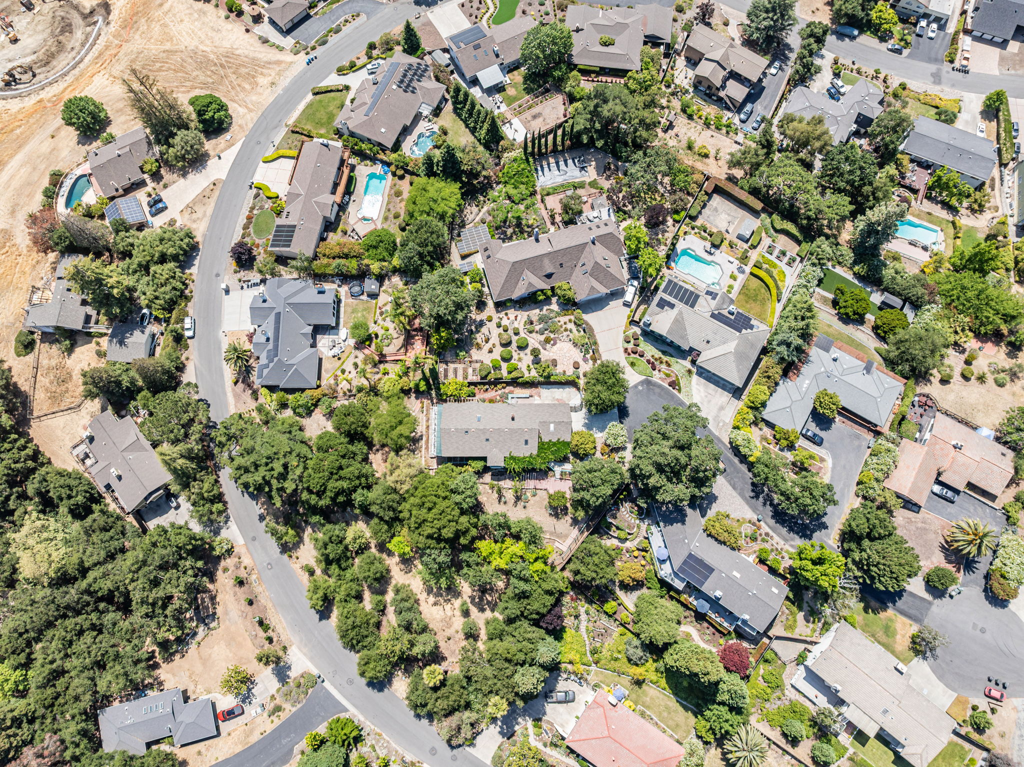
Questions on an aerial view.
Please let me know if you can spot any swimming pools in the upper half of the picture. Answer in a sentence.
Yes, looking in the upper half of the picture, one can make out a swimming pool.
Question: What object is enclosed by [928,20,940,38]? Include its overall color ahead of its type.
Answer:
white vehicle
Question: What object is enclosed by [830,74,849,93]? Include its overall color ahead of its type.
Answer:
white vehicle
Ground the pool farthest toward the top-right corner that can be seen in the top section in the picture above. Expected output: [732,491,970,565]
[902,218,940,250]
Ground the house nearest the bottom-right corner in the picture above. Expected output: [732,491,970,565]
[810,620,956,767]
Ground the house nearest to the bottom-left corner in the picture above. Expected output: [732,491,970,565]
[100,688,220,765]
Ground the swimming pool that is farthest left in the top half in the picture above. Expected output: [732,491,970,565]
[62,173,94,212]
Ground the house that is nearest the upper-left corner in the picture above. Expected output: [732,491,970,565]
[88,130,158,199]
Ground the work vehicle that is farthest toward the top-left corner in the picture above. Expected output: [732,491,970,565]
[0,20,21,43]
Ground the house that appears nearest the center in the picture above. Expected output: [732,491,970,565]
[439,403,572,468]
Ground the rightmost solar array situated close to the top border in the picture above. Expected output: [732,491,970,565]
[448,24,487,48]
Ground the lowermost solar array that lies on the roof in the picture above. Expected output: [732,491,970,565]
[676,553,714,580]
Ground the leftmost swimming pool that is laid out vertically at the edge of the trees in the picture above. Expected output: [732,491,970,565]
[355,166,388,225]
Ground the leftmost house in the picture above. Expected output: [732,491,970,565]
[24,253,91,332]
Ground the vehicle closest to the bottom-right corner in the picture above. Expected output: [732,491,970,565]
[986,688,1009,702]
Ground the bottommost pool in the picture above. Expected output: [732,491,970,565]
[673,247,724,292]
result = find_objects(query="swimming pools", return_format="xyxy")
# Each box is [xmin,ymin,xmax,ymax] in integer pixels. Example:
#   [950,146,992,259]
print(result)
[62,173,94,212]
[673,247,724,292]
[408,129,438,159]
[355,166,388,225]
[902,218,940,250]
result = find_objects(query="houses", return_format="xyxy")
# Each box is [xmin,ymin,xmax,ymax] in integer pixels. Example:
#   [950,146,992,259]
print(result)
[81,410,177,512]
[898,115,999,184]
[641,275,768,388]
[479,219,627,304]
[886,0,955,26]
[653,501,789,633]
[810,620,956,767]
[780,78,884,150]
[107,322,156,363]
[565,0,673,77]
[683,24,769,100]
[247,278,336,389]
[100,688,220,765]
[88,130,158,199]
[264,0,310,35]
[439,403,572,468]
[268,139,342,261]
[880,413,1014,506]
[445,15,534,89]
[968,0,1024,48]
[333,50,447,154]
[24,253,91,332]
[564,689,682,767]
[761,339,907,434]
